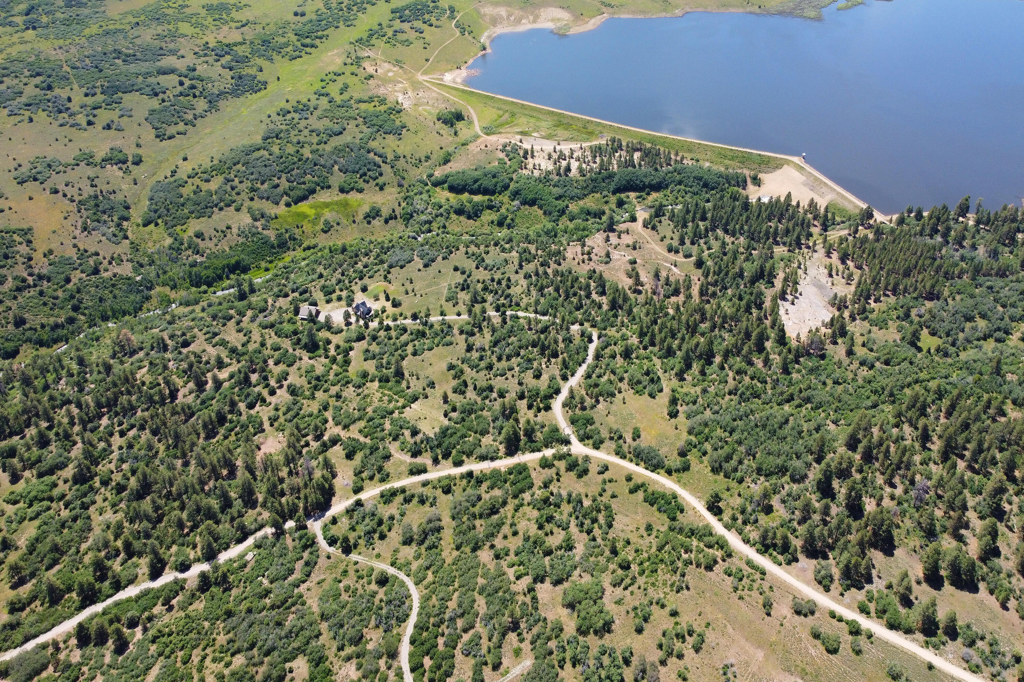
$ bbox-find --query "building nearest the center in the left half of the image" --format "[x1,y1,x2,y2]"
[347,300,374,323]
